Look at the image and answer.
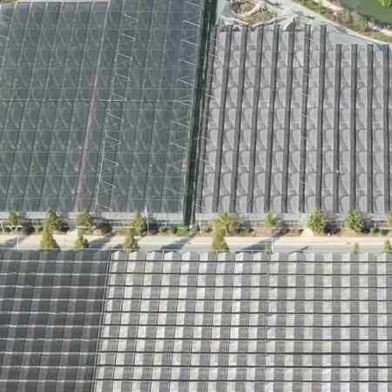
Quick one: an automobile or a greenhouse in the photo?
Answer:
greenhouse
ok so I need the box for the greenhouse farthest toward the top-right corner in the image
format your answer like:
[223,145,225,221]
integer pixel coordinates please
[192,24,392,230]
